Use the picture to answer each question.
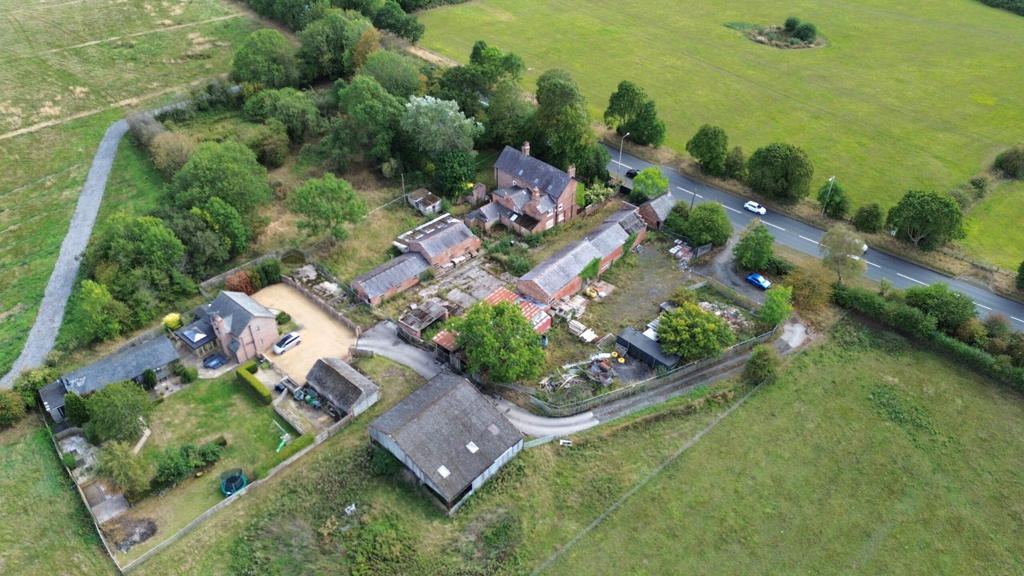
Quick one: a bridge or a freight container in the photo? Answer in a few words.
freight container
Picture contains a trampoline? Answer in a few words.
Yes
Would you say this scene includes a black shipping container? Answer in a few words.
Yes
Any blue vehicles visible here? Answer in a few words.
Yes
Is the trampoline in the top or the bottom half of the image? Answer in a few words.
bottom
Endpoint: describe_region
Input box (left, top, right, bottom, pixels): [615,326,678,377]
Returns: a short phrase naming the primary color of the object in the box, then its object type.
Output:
black shipping container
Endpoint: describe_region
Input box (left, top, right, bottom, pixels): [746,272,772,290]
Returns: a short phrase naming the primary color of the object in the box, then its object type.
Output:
blue car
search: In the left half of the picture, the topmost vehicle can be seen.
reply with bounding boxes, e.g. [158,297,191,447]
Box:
[272,333,302,355]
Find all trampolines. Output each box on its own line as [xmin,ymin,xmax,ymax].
[216,468,247,497]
